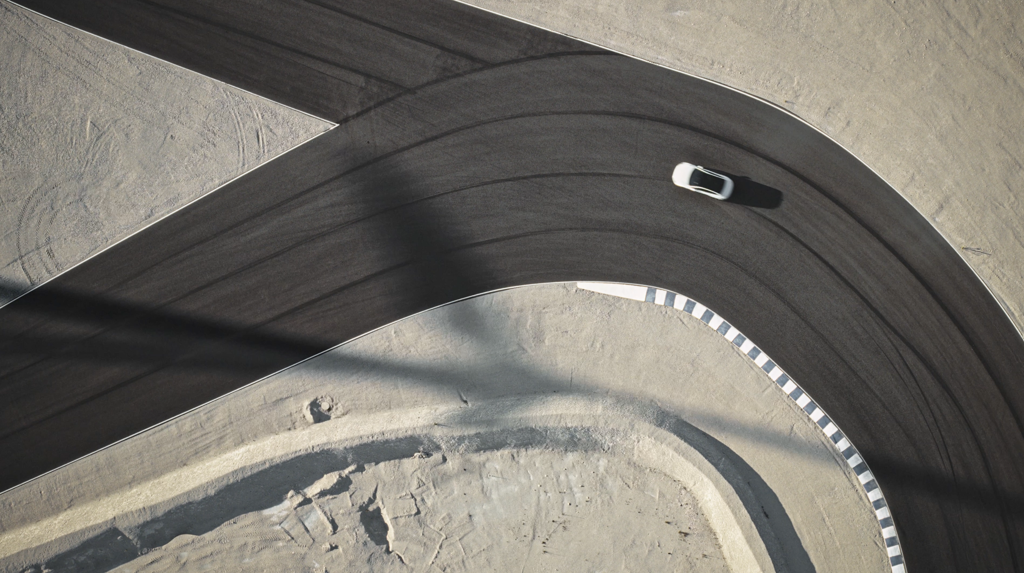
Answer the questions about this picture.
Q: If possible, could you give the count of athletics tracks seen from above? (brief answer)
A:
zero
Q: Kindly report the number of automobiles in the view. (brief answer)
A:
1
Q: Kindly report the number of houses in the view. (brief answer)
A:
none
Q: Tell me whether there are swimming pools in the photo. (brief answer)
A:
No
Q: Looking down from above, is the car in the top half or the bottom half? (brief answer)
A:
top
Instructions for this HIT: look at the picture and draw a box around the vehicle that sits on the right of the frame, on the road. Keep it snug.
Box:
[671,163,734,201]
